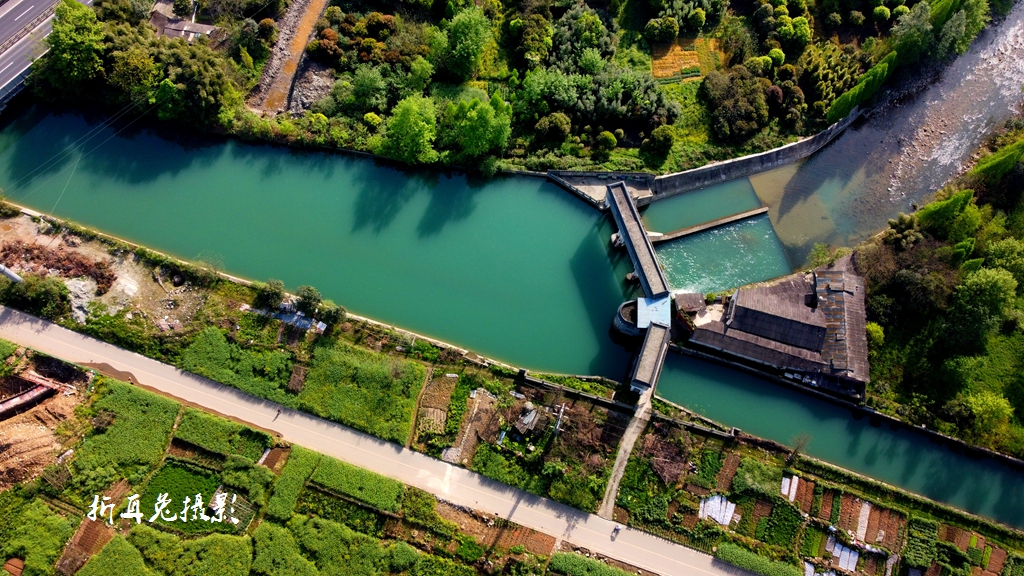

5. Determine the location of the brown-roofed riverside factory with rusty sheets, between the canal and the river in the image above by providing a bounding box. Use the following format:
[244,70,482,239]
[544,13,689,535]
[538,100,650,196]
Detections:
[672,248,874,409]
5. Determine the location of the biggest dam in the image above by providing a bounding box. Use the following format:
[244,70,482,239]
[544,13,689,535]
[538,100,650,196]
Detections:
[603,181,673,401]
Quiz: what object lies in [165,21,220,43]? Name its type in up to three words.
house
